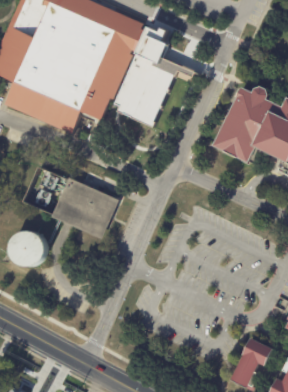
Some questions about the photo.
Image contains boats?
No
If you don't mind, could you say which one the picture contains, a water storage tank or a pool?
water storage tank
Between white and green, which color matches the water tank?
white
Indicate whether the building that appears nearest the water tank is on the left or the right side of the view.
left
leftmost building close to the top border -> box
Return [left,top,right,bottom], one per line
[0,0,144,133]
